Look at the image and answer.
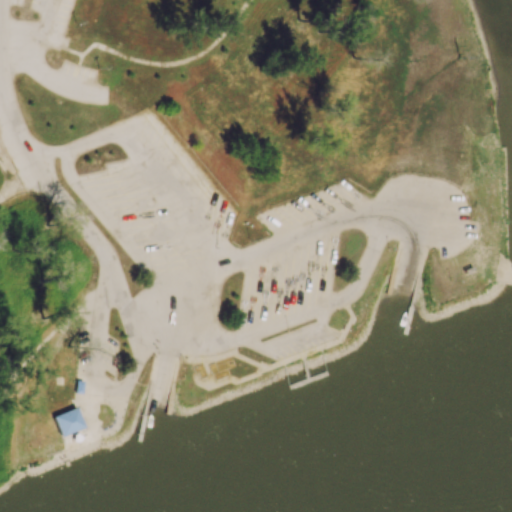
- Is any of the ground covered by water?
Yes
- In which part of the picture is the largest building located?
bottom left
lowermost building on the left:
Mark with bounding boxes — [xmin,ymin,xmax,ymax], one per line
[56,408,86,437]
